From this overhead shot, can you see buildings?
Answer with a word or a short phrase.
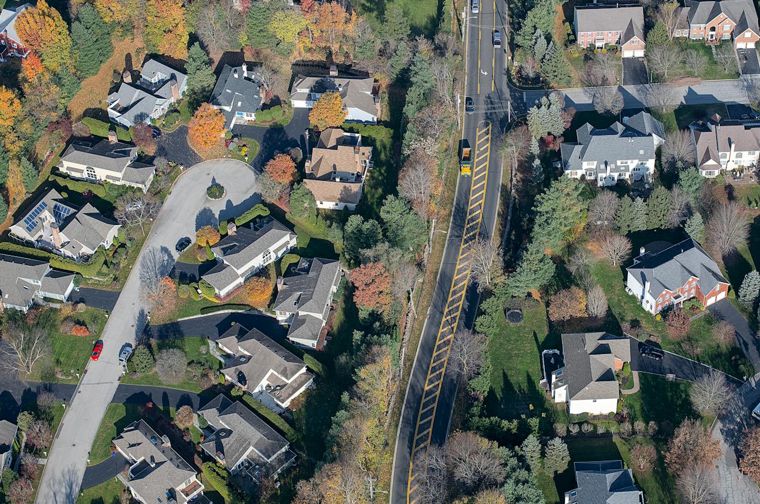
Yes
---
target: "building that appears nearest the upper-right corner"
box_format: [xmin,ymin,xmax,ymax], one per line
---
[669,0,760,50]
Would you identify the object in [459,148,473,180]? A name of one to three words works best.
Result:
vehicle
